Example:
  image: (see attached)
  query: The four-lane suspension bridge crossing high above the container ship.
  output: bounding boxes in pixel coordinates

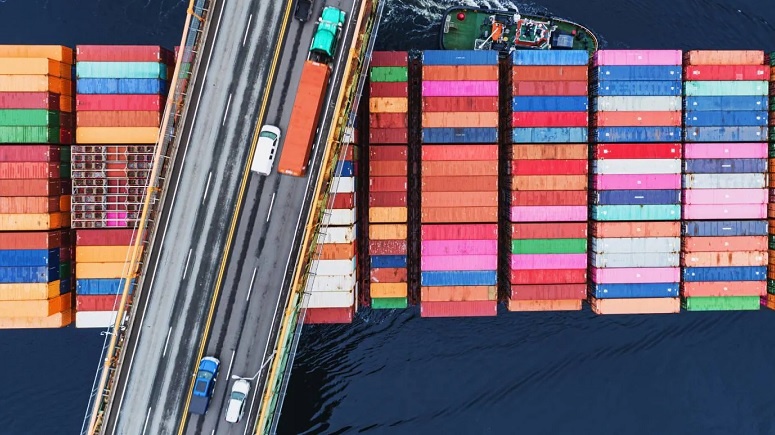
[83,0,388,435]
